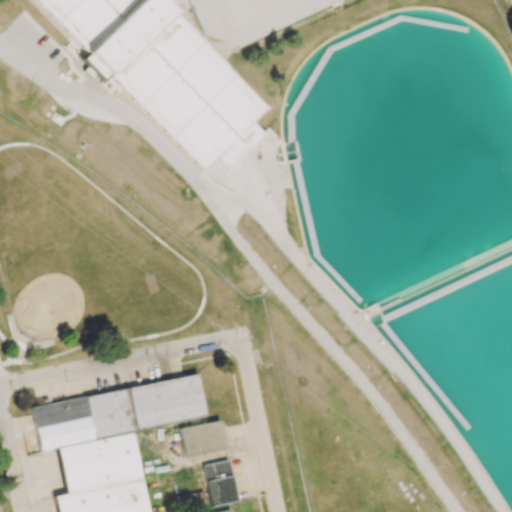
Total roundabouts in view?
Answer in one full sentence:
I count no roundabouts.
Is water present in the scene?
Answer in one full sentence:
Yes, water can be seen from above here.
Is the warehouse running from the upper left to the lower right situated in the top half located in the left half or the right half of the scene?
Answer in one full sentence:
It is on the left.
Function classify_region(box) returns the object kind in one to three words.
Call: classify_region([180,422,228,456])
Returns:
building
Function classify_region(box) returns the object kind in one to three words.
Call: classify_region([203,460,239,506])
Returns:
house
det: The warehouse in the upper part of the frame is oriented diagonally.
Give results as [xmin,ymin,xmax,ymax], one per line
[34,0,270,170]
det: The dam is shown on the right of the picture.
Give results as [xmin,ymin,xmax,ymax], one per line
[362,248,512,318]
